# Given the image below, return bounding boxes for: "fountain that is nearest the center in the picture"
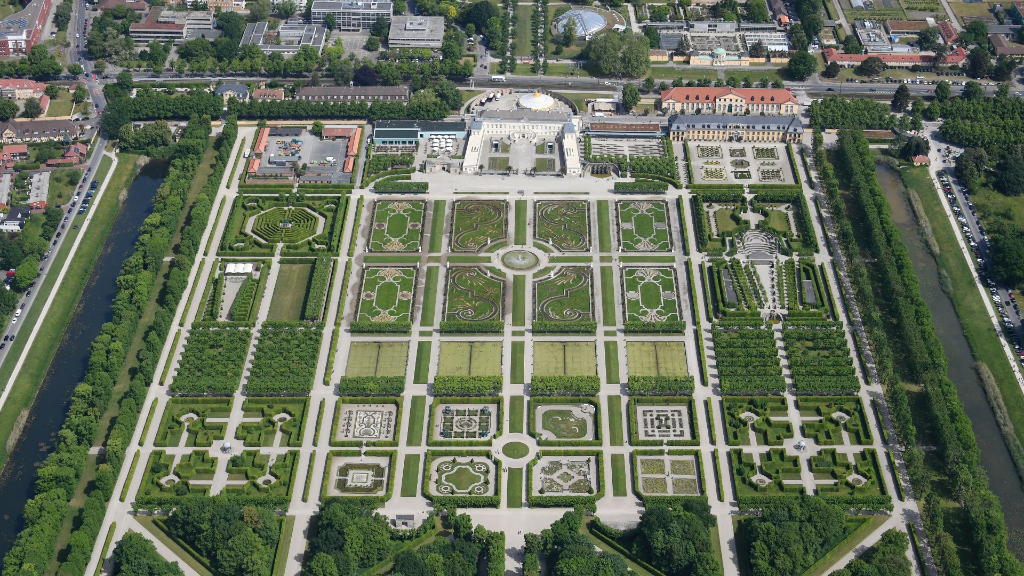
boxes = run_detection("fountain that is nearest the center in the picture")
[501,249,538,269]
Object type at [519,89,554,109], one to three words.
tent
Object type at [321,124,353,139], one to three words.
building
